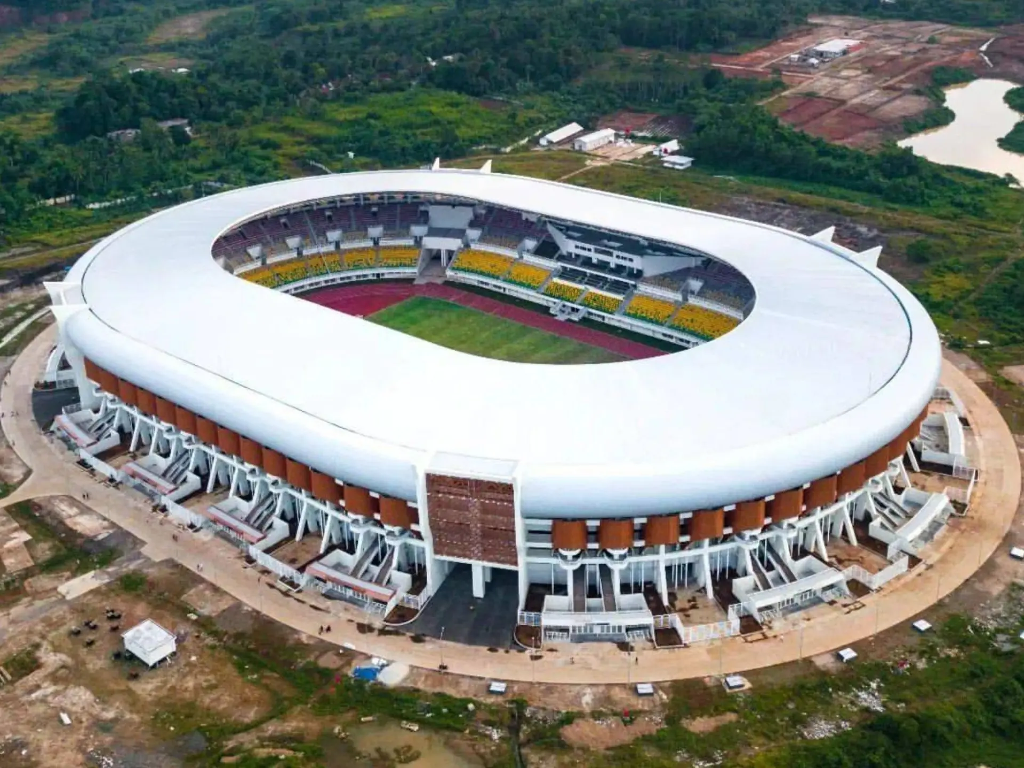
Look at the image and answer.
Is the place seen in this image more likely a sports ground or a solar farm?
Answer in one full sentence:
What you see here is a sports ground.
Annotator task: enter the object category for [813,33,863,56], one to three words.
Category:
building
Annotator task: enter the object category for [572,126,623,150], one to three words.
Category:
building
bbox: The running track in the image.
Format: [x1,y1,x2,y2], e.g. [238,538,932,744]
[313,289,666,361]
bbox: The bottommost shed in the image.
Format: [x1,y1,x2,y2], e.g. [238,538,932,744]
[122,619,177,671]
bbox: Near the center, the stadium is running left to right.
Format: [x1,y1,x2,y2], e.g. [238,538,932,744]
[42,156,937,616]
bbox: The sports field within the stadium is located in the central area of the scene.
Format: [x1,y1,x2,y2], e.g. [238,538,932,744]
[366,295,638,367]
